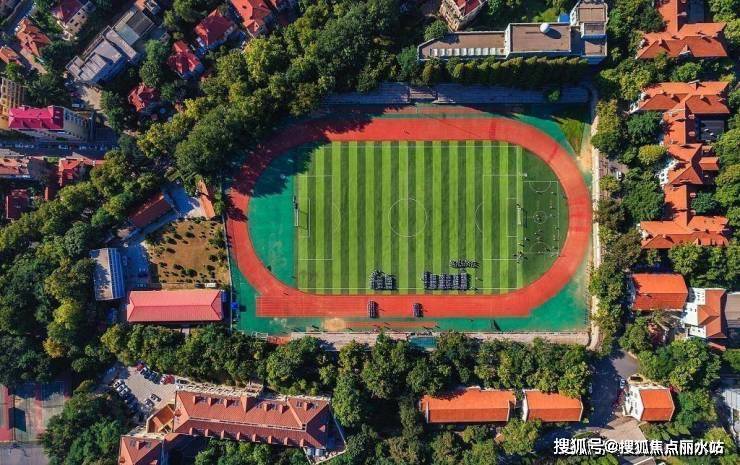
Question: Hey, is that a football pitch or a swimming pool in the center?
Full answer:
What appears in the center is a football pitch.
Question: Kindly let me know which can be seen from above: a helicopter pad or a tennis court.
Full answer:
There is a tennis court in the scene.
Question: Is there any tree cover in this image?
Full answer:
Yes, there is tree cover in the image.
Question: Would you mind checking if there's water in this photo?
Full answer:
No, the scene doesn't show any water.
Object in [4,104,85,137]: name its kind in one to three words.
building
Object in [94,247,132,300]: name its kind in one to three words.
shed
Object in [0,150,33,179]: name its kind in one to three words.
house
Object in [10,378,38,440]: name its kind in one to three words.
tennis court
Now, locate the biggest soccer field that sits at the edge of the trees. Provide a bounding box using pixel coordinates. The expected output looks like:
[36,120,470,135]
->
[297,142,522,294]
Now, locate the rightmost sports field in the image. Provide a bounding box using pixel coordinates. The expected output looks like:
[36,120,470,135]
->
[522,148,568,288]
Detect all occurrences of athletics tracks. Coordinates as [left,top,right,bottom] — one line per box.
[224,104,592,333]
